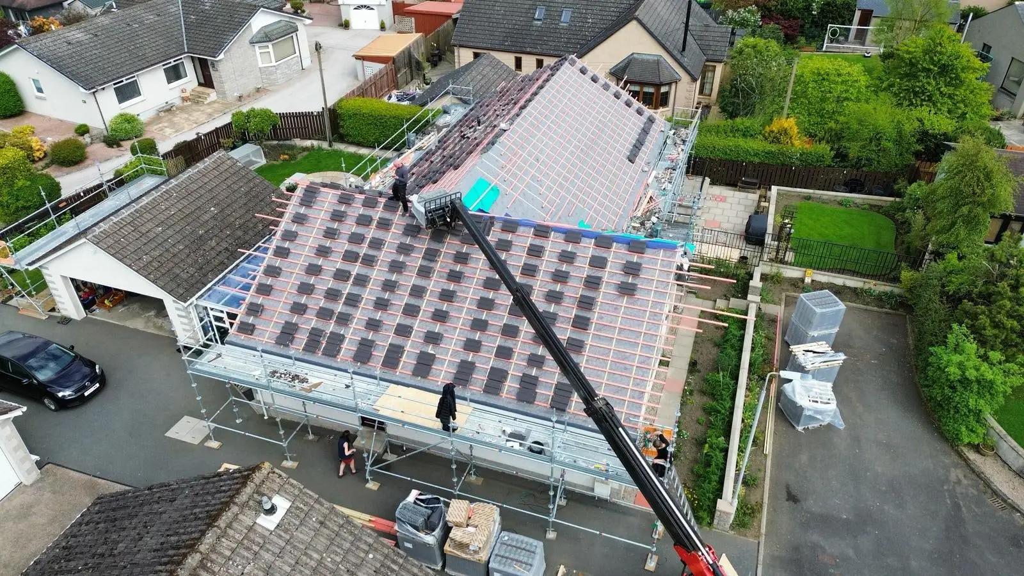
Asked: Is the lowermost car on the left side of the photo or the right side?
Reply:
left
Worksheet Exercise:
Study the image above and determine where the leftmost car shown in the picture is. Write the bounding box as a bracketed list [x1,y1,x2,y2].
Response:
[0,329,108,415]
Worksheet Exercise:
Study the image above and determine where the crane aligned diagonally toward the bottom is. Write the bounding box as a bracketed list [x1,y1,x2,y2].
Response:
[424,191,742,576]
